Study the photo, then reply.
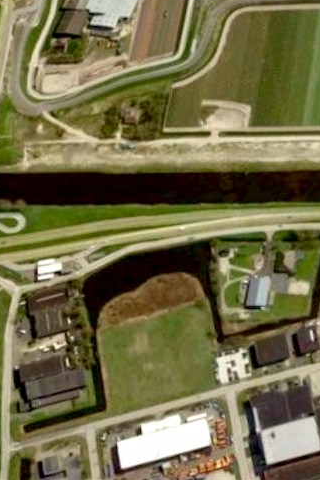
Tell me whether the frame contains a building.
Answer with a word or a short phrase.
Yes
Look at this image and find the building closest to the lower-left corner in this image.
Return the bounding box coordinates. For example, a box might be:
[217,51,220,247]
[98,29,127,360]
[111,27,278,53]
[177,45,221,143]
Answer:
[42,454,62,476]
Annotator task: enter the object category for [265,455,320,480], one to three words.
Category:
building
